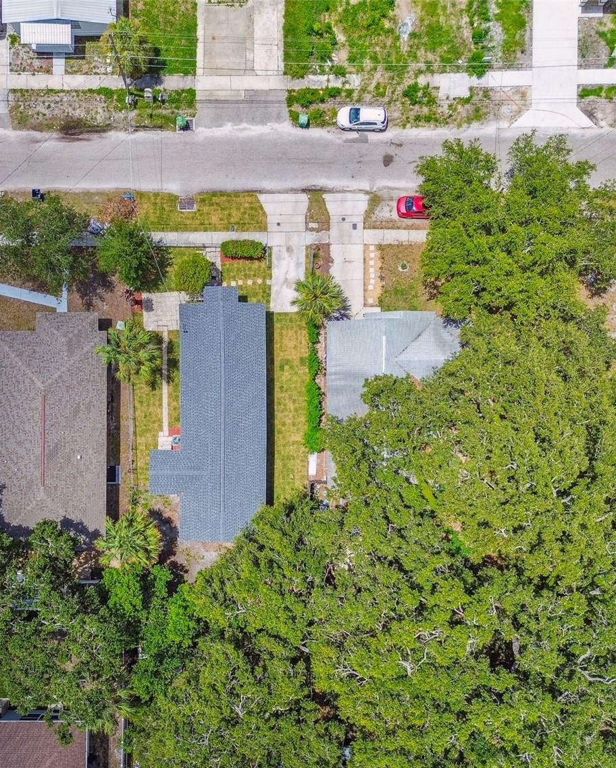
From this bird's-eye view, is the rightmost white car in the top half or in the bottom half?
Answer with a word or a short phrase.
top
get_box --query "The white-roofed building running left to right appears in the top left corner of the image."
[2,0,117,52]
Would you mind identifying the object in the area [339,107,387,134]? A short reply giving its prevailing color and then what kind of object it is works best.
white car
